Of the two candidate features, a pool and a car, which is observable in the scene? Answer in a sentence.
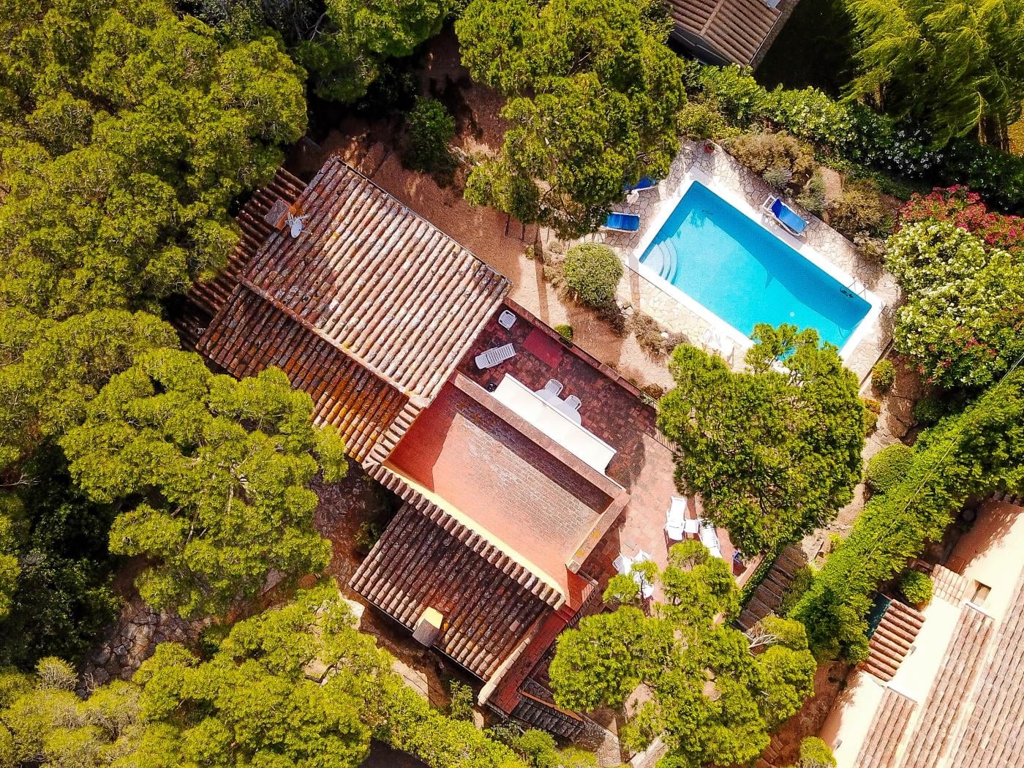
The one in the frame is a pool.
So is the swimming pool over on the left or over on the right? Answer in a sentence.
The swimming pool appears in the right half of the scene.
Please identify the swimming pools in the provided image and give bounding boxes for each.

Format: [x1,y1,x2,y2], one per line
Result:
[622,160,894,397]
